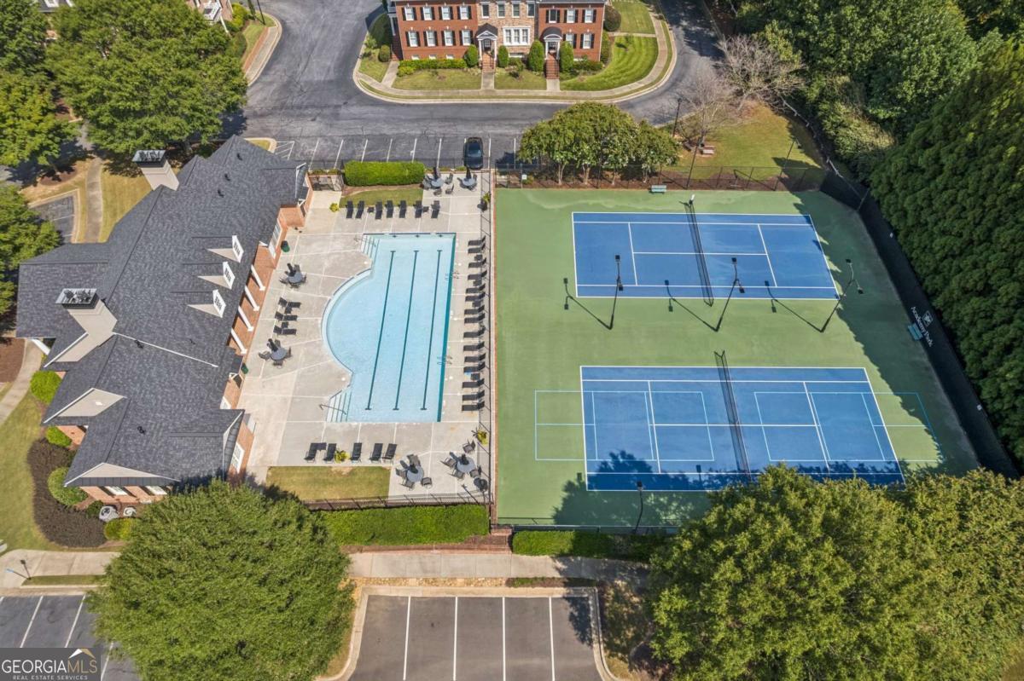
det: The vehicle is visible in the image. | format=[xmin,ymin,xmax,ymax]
[462,135,484,168]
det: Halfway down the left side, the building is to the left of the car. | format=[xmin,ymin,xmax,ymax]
[14,135,315,501]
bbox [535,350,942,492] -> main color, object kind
blue tennis court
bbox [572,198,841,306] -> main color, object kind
blue tennis court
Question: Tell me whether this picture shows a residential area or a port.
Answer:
residential area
